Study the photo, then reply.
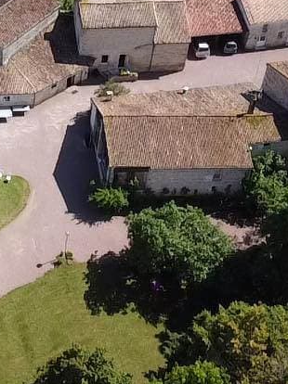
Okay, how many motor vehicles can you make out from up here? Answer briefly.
2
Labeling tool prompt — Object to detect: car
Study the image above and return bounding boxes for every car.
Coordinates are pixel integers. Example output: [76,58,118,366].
[192,37,213,60]
[218,34,242,56]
